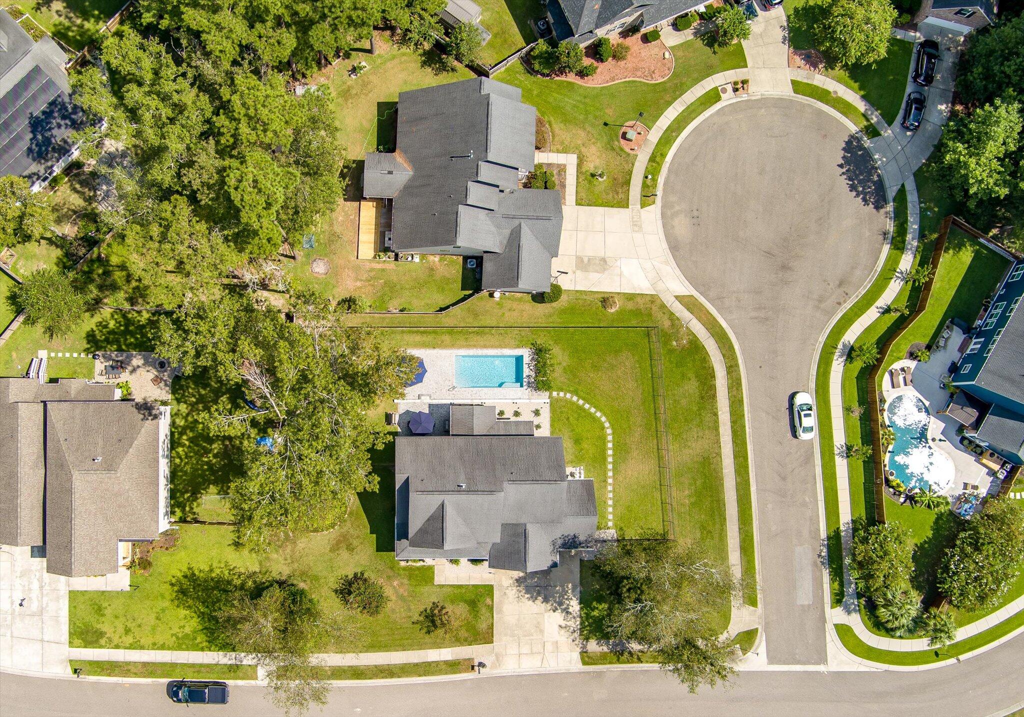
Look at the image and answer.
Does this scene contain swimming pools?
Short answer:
Yes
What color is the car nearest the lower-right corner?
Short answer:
white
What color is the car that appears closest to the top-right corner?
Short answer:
black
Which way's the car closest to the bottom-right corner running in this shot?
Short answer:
from top to bottom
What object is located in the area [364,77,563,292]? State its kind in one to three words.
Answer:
house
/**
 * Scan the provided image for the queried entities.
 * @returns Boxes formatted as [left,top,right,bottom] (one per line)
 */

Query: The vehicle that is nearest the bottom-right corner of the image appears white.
[791,391,815,440]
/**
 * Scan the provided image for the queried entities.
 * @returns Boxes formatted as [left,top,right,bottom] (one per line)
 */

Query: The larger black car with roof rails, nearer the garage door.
[907,38,938,89]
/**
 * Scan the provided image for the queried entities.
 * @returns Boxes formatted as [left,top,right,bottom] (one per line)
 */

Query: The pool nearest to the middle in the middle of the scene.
[453,354,525,389]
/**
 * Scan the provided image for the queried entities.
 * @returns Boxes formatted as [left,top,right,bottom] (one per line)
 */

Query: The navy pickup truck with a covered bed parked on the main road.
[171,678,232,705]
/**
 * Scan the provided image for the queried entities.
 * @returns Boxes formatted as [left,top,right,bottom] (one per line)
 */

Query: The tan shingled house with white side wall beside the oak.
[0,378,171,577]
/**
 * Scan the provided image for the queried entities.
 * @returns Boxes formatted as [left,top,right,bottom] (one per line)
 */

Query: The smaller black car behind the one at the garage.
[898,91,927,133]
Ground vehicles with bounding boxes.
[898,91,927,133]
[732,0,760,24]
[907,38,938,89]
[762,0,783,11]
[791,391,815,440]
[171,678,232,705]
